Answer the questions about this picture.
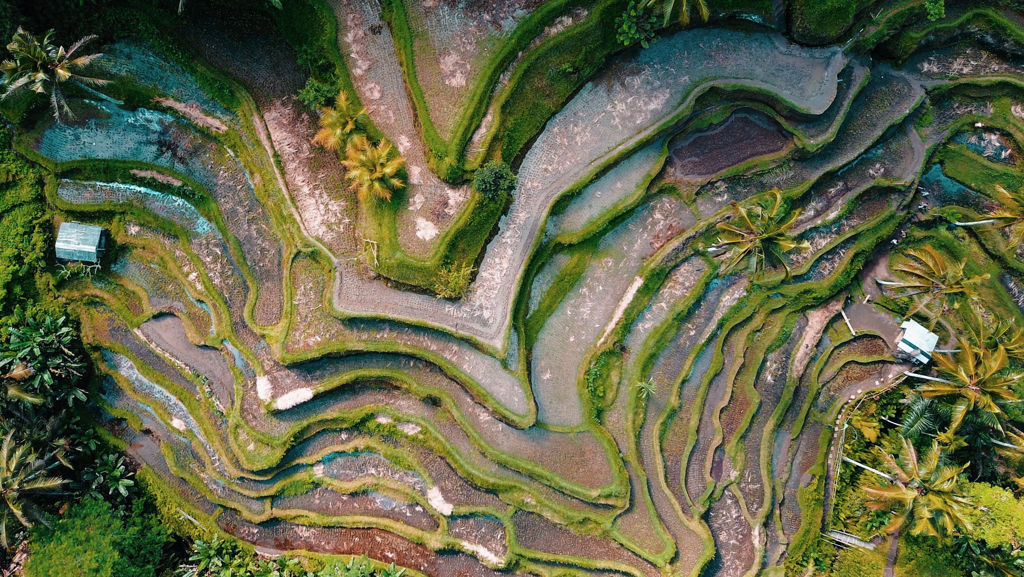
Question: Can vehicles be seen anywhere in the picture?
No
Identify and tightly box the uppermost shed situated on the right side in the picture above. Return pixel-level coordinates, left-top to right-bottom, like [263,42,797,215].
[887,319,940,364]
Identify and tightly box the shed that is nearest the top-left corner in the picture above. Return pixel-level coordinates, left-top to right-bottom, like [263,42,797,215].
[55,222,114,262]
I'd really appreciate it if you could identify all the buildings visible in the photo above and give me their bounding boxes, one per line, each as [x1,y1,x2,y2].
[55,222,114,262]
[887,319,940,364]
